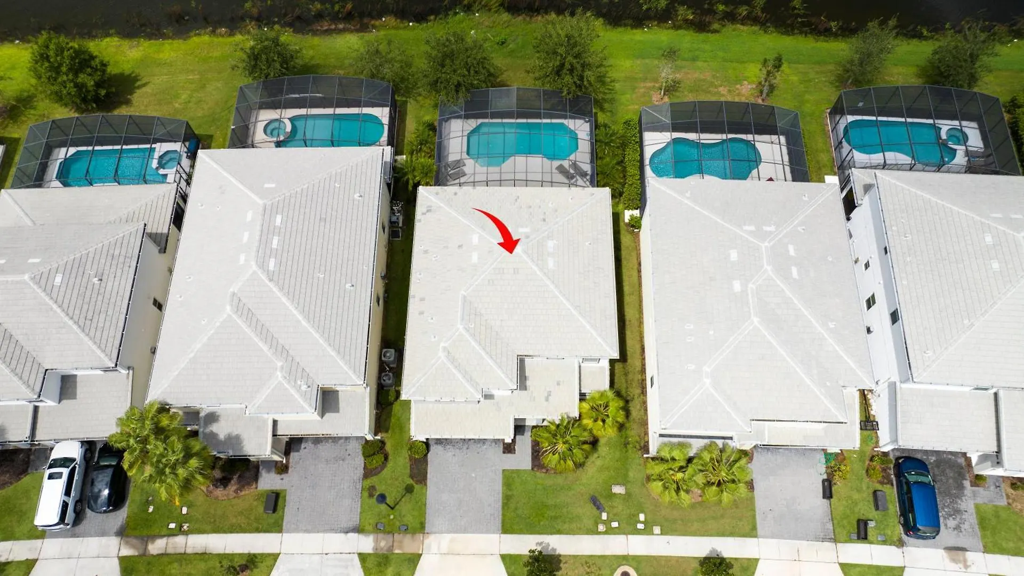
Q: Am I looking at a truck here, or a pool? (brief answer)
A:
pool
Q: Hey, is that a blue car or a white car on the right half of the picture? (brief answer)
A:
blue car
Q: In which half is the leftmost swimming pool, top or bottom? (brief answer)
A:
top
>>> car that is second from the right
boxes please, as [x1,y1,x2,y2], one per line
[88,444,128,514]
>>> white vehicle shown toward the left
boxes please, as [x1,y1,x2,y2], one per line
[28,444,90,529]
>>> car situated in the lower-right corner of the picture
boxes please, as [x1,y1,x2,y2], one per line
[892,457,946,538]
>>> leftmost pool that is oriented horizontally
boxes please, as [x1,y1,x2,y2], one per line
[52,145,180,185]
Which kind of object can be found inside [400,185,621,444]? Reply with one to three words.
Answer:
house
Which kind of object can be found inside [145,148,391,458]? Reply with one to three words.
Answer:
house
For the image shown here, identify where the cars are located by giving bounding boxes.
[88,444,128,514]
[892,457,946,538]
[28,444,90,529]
